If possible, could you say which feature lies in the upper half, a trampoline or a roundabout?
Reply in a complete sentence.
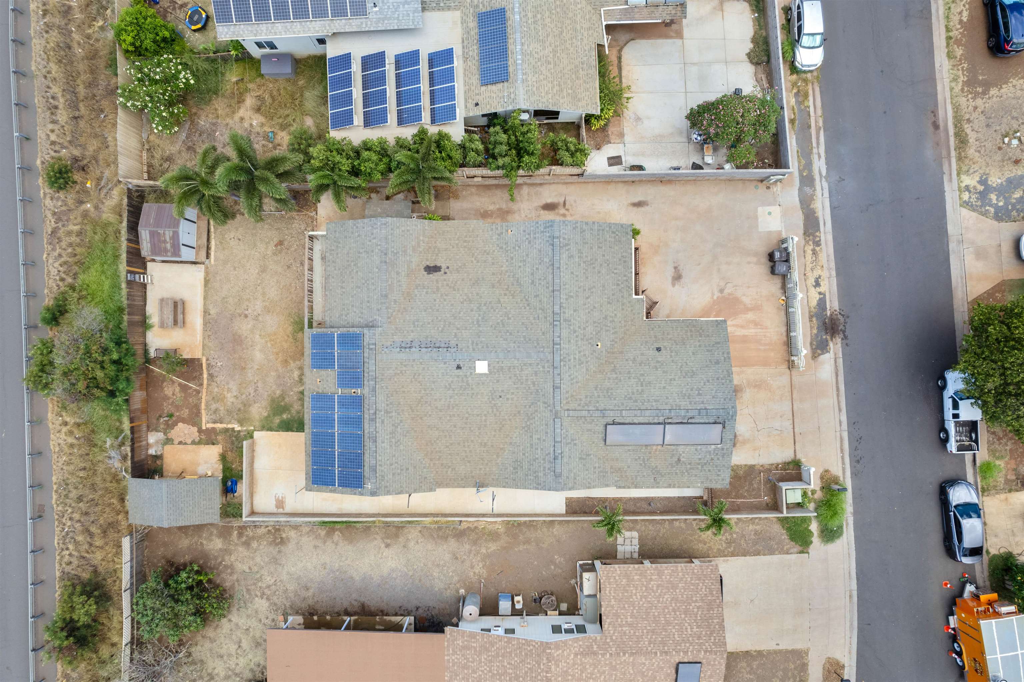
It is a trampoline that can be seen in the upper half.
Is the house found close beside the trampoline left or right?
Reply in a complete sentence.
You can find the house found close beside the trampoline on the left side of the picture.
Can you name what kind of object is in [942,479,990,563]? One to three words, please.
car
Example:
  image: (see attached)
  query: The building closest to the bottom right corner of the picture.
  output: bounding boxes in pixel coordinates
[444,559,727,682]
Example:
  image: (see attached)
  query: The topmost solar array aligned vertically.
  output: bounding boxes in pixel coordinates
[478,6,508,84]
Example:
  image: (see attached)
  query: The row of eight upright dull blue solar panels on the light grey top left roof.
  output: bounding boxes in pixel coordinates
[210,0,368,25]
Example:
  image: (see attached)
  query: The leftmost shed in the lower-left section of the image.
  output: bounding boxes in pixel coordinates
[128,477,221,528]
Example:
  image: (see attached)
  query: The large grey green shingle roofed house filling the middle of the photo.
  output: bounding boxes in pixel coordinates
[304,217,736,497]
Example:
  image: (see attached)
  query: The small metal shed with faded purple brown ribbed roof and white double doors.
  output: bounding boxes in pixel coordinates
[138,203,207,261]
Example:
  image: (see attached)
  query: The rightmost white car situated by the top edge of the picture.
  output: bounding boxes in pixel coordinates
[791,0,835,71]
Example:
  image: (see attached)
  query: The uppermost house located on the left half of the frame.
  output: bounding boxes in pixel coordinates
[216,0,423,58]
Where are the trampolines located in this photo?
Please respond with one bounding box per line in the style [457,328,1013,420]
[185,6,212,32]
